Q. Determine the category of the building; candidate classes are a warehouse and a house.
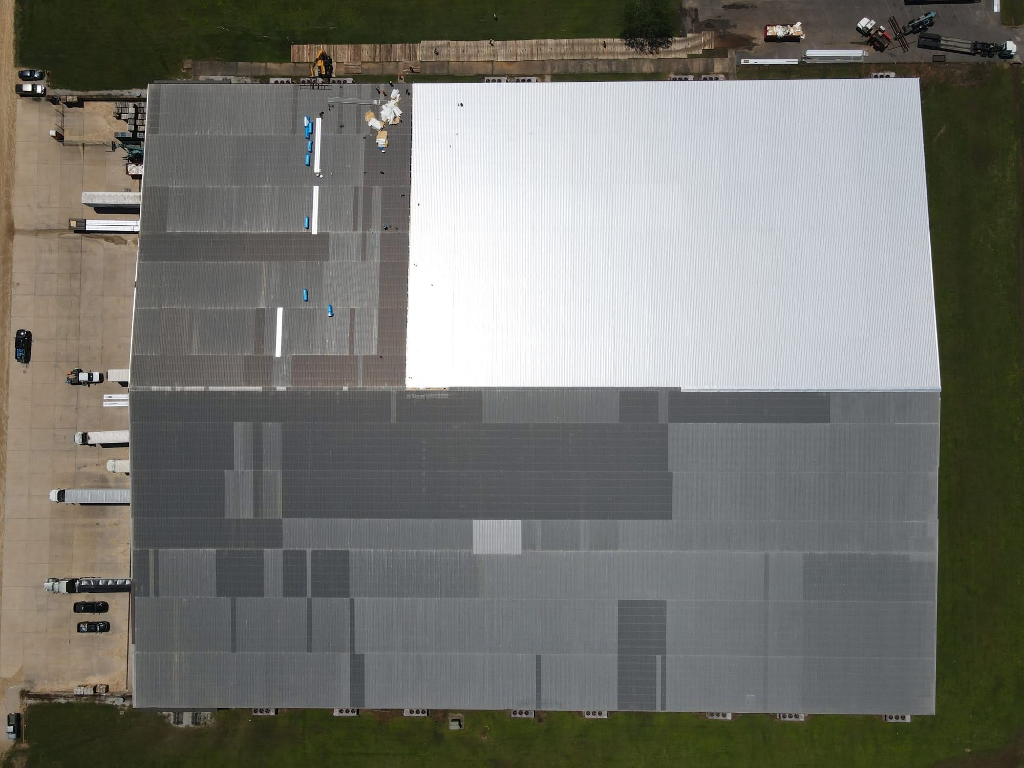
warehouse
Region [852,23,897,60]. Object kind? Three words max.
truck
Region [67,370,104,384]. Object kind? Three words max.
vehicle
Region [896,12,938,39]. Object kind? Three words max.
work vehicle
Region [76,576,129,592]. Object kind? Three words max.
trailer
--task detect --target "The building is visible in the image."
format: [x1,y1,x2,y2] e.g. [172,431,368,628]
[126,76,942,716]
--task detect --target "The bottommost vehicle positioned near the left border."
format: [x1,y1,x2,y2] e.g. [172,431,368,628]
[4,710,21,740]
